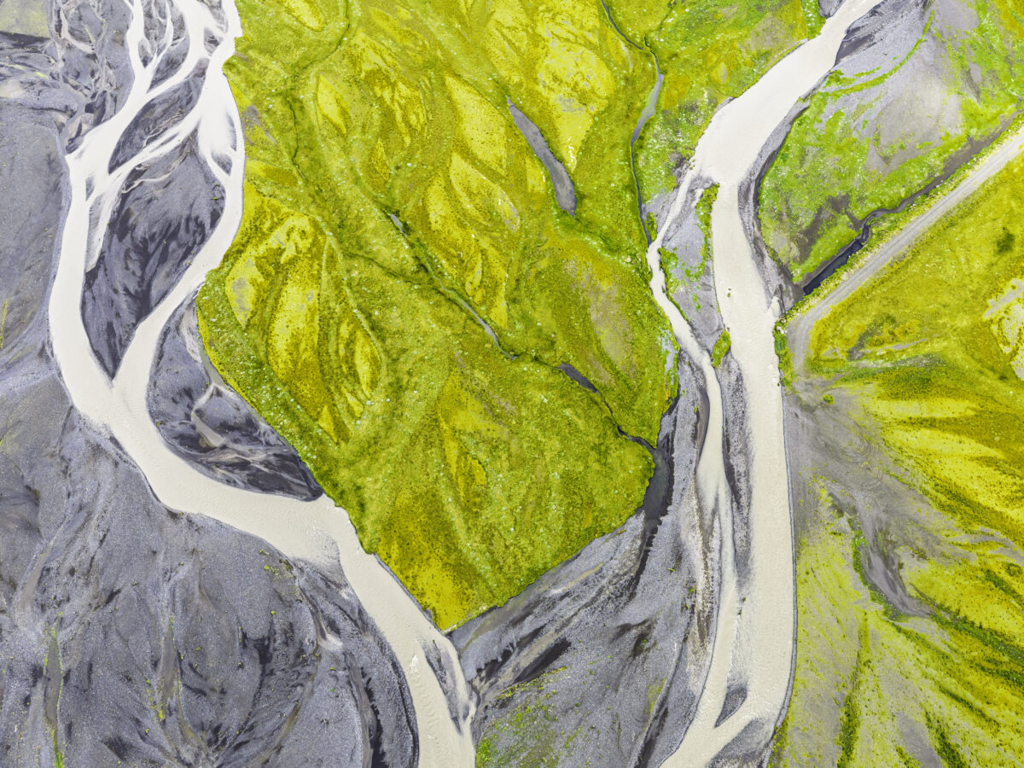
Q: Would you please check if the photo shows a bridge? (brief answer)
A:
No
